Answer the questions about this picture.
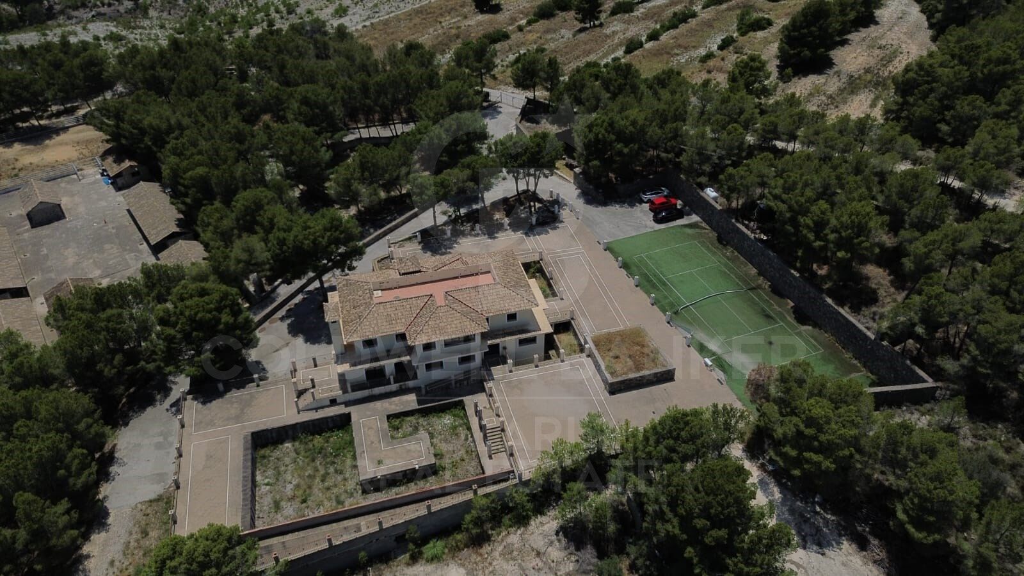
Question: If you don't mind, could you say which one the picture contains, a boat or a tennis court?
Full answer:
Of the two, only a tennis court appears.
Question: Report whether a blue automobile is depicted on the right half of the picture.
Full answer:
No, there is no blue automobile on the right half of the picture.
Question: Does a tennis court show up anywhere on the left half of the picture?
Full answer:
No, there is no tennis court on the left half of the picture.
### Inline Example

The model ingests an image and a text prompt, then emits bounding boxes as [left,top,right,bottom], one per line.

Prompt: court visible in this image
[607,215,868,417]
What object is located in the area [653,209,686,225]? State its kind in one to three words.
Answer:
car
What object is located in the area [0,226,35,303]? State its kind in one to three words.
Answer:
shed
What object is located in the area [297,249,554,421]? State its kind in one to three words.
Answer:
house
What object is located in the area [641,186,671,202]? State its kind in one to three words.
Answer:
car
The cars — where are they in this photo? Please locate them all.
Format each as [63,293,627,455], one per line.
[649,198,680,213]
[653,209,686,225]
[641,186,671,202]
